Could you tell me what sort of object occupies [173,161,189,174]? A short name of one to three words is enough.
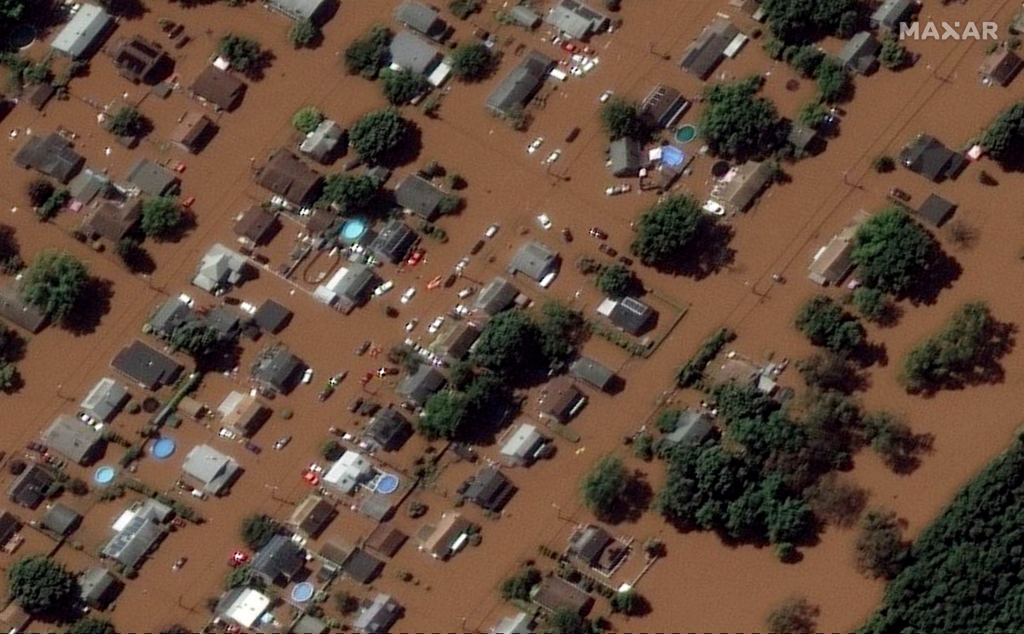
vehicle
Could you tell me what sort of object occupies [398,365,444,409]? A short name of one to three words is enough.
house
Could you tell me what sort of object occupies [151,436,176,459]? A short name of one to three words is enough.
swimming pool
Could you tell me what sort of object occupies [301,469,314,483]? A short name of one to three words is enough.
vehicle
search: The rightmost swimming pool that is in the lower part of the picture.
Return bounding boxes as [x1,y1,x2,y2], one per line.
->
[378,474,398,495]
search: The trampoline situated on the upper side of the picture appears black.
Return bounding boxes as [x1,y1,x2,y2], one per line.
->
[712,161,730,177]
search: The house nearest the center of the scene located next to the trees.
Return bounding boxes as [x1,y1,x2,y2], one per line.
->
[475,278,516,314]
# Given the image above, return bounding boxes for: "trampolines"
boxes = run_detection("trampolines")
[786,78,800,90]
[142,397,158,411]
[712,161,730,177]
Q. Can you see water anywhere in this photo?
Yes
